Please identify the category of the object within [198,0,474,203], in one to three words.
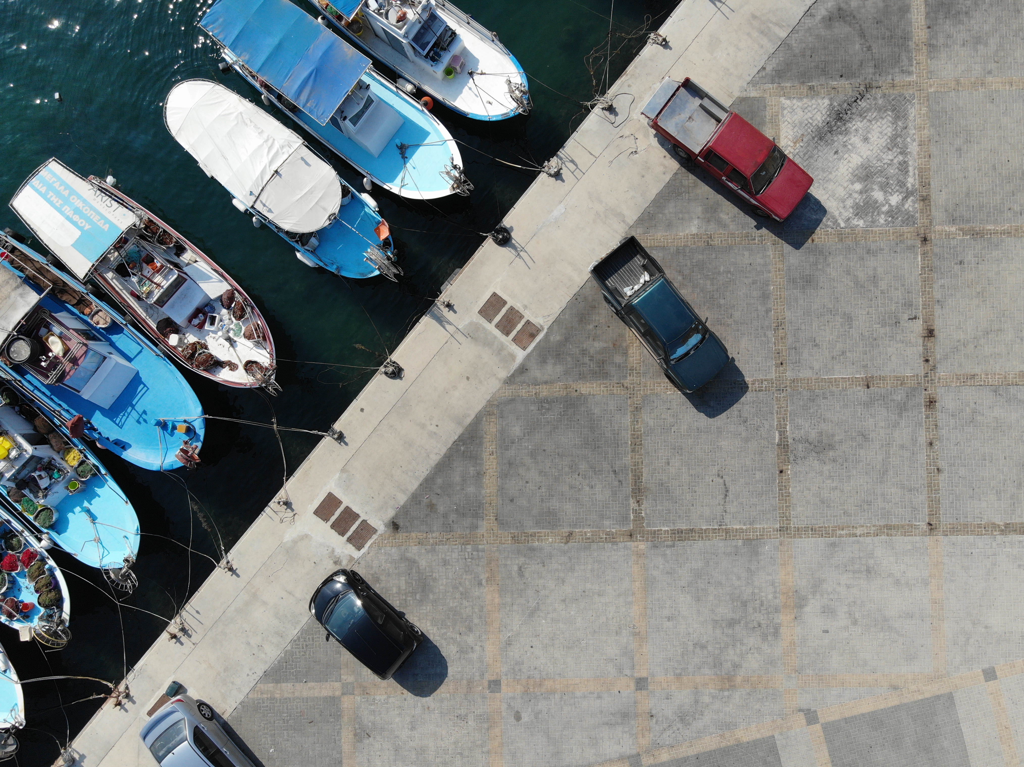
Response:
boat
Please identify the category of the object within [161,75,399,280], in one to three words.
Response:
boat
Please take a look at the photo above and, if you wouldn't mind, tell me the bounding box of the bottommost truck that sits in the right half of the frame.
[586,235,728,392]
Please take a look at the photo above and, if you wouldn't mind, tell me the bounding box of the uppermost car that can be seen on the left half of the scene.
[308,568,425,680]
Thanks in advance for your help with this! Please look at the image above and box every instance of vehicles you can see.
[586,235,728,392]
[641,74,813,225]
[144,693,271,767]
[308,568,425,680]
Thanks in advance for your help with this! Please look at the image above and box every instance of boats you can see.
[305,0,533,123]
[0,633,34,757]
[0,377,142,592]
[0,504,72,649]
[0,228,207,471]
[161,75,399,280]
[9,157,283,395]
[198,0,474,203]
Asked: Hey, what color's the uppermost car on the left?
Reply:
black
